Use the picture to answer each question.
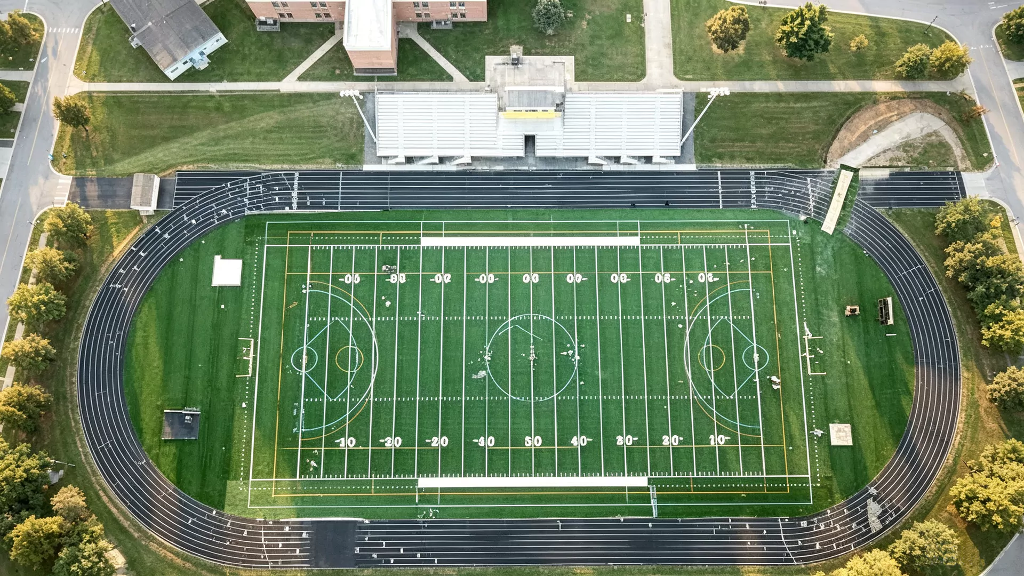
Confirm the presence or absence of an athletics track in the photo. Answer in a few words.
Yes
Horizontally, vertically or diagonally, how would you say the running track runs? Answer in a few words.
horizontally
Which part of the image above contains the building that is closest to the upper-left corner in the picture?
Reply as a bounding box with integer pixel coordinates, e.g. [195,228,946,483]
[105,0,228,80]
